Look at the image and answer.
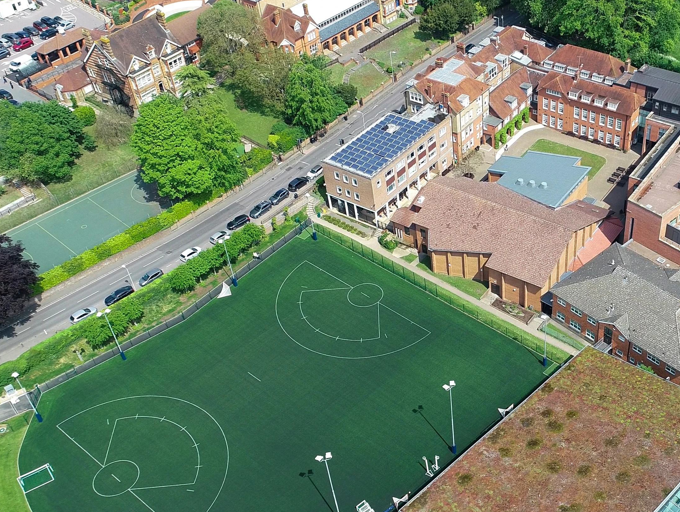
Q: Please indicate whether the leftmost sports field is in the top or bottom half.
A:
bottom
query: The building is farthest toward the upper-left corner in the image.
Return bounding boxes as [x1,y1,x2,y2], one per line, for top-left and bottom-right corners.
[0,0,32,18]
